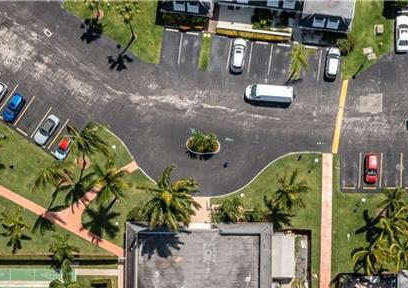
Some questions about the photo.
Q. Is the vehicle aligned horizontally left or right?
right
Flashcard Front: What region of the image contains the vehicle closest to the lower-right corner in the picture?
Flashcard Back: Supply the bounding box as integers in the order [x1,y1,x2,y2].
[365,154,380,185]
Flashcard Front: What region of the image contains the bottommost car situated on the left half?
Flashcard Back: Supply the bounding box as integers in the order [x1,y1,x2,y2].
[52,136,71,161]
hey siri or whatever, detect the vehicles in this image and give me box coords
[52,136,71,161]
[244,83,295,104]
[229,37,245,75]
[1,91,26,124]
[34,113,60,147]
[394,15,408,53]
[365,154,380,185]
[324,48,341,83]
[0,81,9,102]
